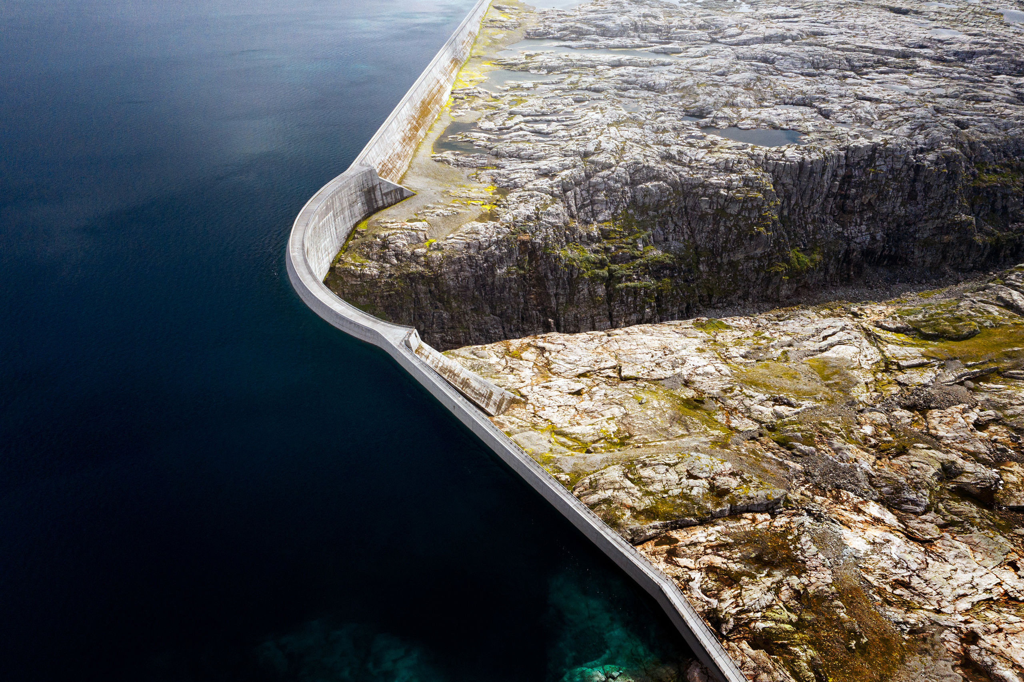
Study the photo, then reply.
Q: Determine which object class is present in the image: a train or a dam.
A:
dam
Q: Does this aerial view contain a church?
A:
No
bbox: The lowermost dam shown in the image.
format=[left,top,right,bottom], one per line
[392,340,746,682]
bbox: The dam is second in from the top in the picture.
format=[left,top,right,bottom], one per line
[286,161,518,449]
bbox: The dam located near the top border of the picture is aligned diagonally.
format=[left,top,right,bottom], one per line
[357,0,493,179]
